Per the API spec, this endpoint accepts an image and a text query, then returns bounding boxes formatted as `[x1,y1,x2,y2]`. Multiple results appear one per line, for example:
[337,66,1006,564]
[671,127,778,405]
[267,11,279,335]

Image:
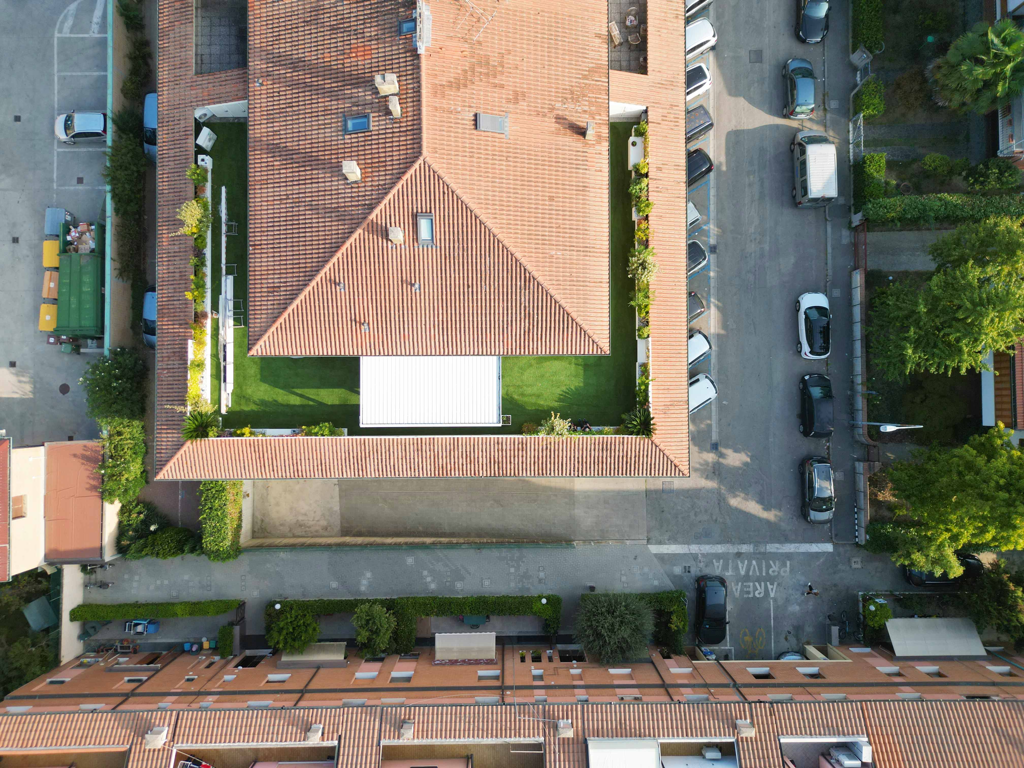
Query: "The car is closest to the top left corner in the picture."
[52,109,105,144]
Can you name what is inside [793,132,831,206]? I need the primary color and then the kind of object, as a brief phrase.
white vehicle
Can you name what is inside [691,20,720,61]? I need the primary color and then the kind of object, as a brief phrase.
white car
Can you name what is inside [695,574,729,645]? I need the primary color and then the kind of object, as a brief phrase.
black car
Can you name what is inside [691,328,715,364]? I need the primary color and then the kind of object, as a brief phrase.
white car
